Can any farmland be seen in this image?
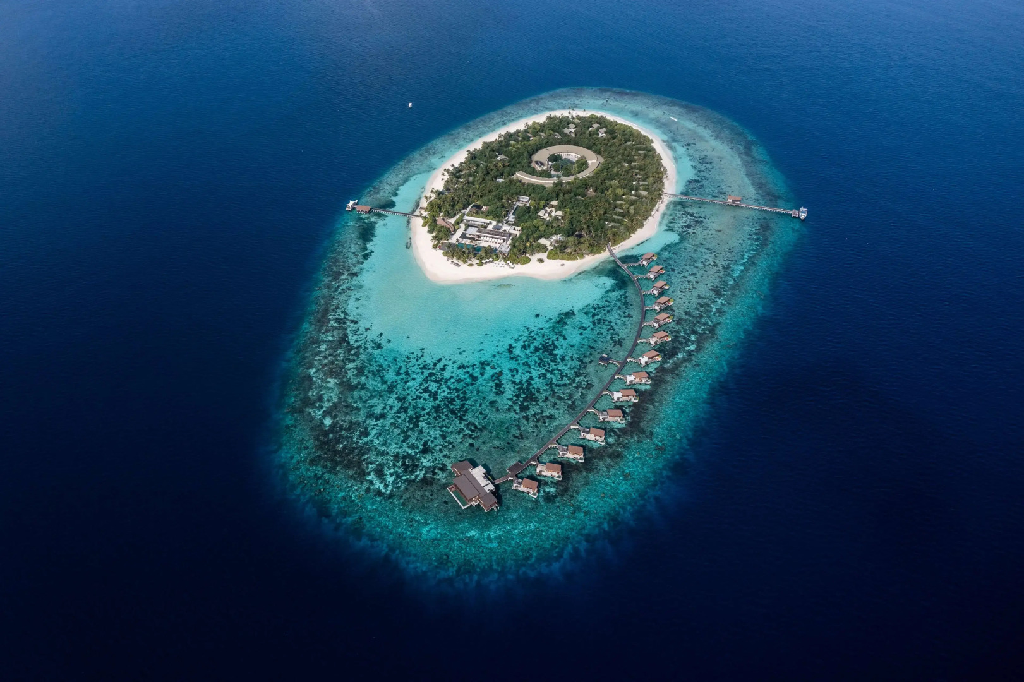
No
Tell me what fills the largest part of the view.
water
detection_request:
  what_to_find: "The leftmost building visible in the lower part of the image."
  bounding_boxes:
[447,460,499,514]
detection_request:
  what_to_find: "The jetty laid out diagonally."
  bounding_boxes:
[492,243,645,485]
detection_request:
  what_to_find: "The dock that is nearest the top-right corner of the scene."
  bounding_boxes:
[662,193,793,215]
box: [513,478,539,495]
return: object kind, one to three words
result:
house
